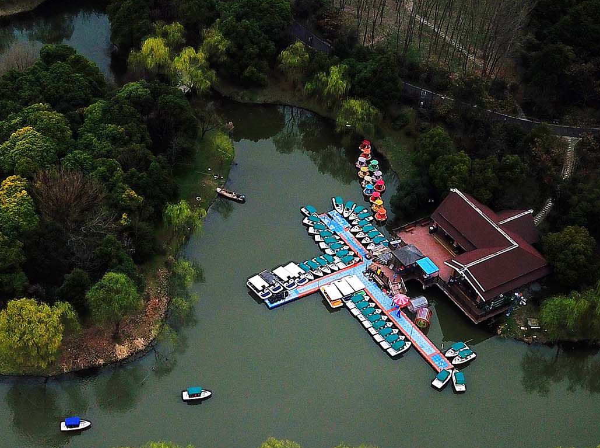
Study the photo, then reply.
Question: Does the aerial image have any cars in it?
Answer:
No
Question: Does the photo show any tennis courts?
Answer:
No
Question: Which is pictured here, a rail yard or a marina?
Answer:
marina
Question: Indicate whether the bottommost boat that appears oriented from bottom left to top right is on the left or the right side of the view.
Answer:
right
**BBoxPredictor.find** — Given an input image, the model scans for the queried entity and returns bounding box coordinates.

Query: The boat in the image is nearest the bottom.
[61,418,92,432]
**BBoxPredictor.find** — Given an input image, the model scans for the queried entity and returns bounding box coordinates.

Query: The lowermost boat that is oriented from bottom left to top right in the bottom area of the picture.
[430,368,452,390]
